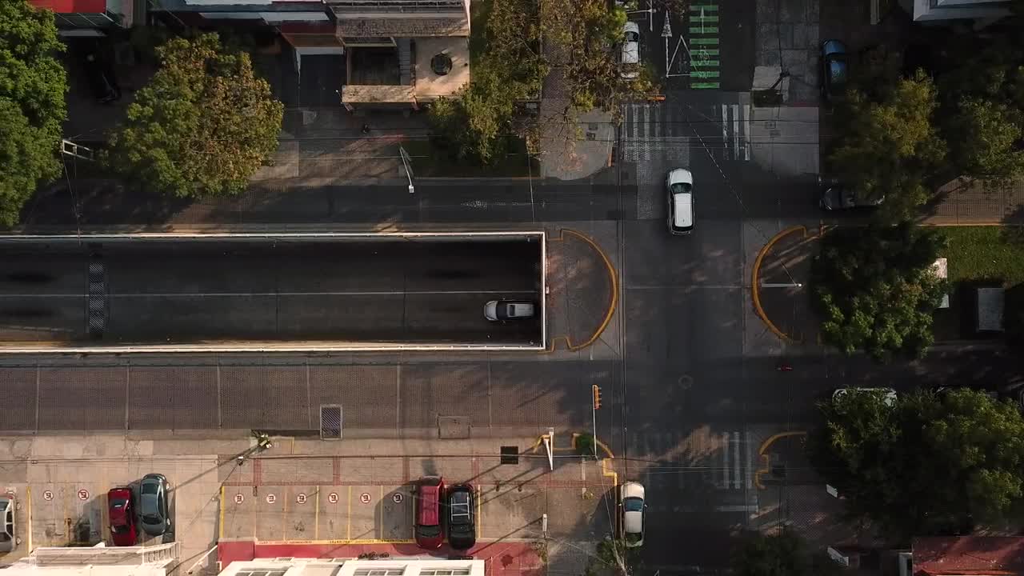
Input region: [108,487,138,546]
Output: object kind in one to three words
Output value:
car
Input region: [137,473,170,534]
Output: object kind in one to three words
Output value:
car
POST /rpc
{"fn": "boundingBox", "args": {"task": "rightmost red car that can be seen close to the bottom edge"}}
[413,477,446,549]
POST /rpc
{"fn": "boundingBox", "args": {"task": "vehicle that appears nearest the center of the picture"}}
[485,299,537,324]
